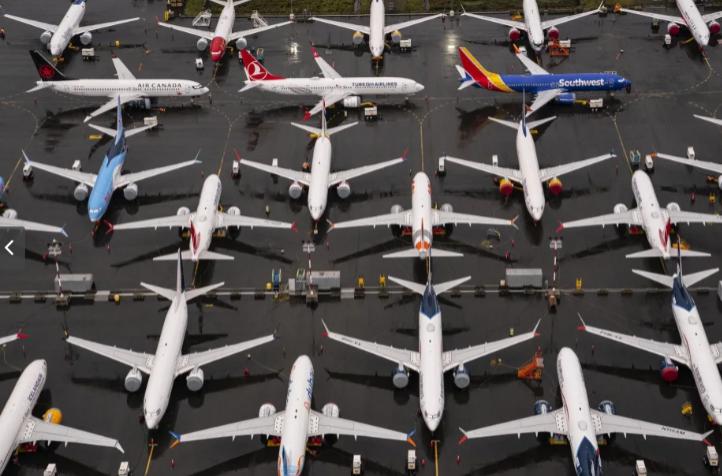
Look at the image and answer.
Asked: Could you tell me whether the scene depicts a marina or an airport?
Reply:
airport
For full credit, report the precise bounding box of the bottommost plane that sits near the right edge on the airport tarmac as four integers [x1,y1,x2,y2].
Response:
[462,346,712,476]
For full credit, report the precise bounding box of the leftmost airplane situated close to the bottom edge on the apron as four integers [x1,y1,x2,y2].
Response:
[0,352,121,471]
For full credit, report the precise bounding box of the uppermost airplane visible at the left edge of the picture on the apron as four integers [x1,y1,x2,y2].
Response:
[4,0,143,61]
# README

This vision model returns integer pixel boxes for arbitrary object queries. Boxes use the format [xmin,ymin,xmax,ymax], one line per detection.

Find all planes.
[4,0,143,61]
[170,346,416,476]
[306,0,448,61]
[577,238,722,422]
[105,169,299,261]
[0,319,27,347]
[234,93,410,224]
[325,166,519,259]
[155,0,297,67]
[25,94,201,226]
[454,42,630,118]
[322,244,541,429]
[556,166,722,259]
[0,352,121,471]
[63,247,282,432]
[235,45,423,121]
[439,89,617,221]
[616,0,722,51]
[0,174,68,238]
[460,0,602,56]
[23,49,208,125]
[462,346,712,476]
